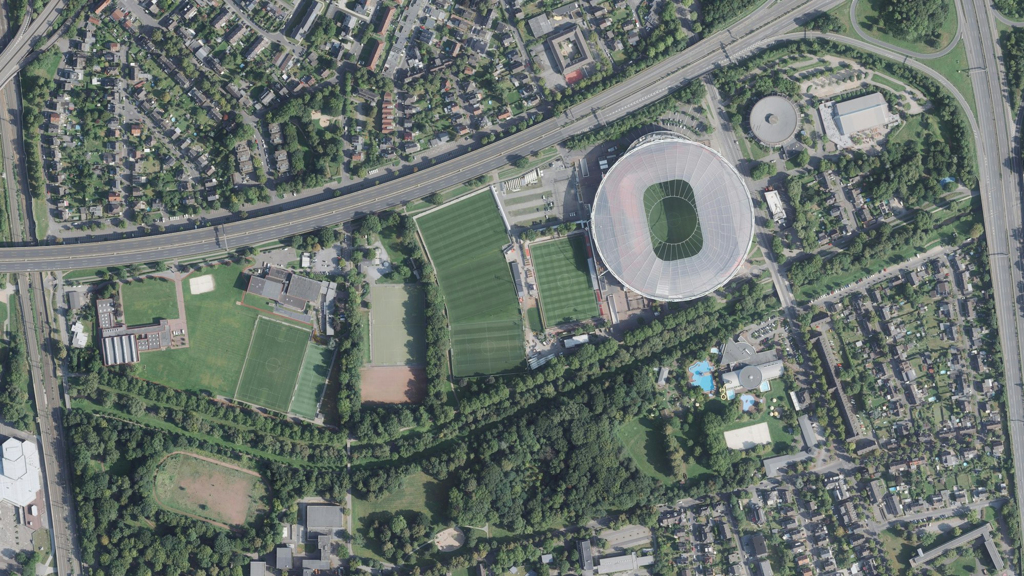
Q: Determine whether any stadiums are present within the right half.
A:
Yes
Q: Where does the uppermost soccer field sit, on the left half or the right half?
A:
right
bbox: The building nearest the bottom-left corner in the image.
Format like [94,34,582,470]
[32,528,51,564]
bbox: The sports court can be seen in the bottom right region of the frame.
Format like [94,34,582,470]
[724,422,772,450]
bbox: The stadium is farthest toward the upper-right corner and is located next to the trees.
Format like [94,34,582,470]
[592,138,756,302]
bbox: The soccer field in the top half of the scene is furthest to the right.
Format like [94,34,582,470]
[645,179,705,261]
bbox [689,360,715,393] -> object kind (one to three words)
swimming pool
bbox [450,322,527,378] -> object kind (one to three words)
soccer field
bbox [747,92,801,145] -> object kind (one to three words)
building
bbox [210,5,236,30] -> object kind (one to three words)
house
